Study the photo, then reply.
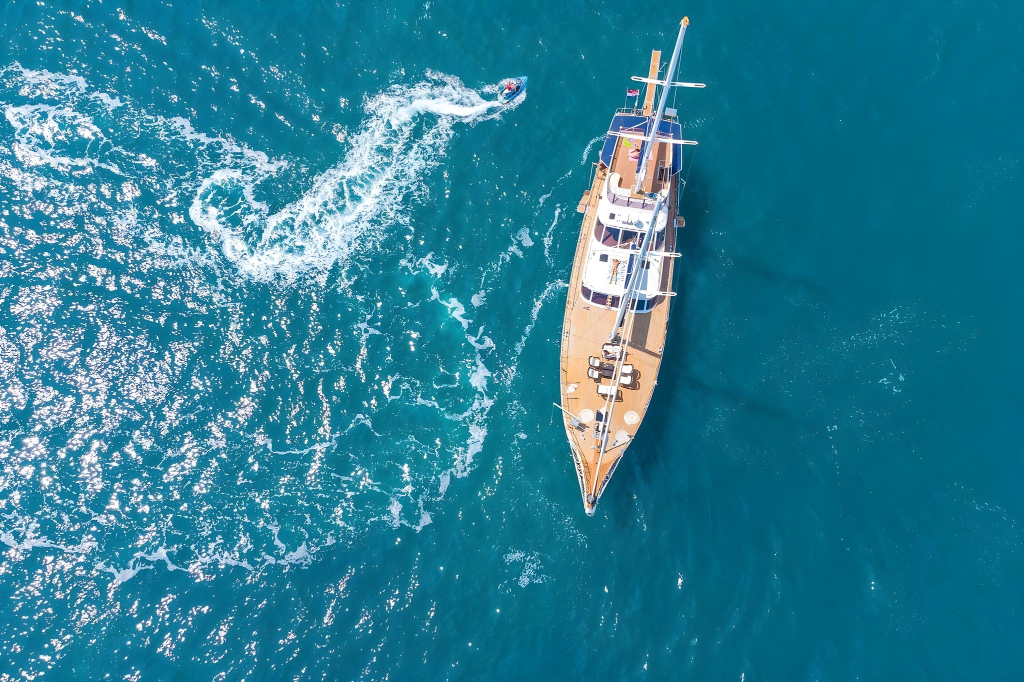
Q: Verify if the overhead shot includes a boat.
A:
Yes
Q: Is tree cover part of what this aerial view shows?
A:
No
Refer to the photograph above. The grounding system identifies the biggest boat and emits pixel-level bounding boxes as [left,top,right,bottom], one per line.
[552,16,706,520]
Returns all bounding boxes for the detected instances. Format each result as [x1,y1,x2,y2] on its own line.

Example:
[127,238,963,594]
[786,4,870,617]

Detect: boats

[552,16,706,520]
[498,76,526,105]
